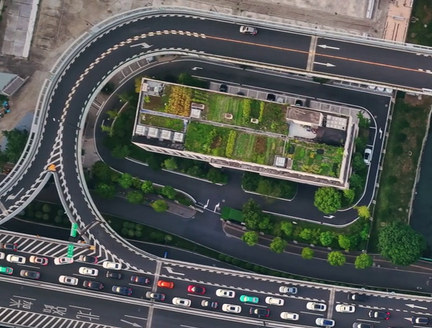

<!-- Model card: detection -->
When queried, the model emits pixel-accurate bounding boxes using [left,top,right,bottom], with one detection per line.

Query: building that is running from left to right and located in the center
[130,77,359,189]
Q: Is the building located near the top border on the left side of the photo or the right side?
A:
left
